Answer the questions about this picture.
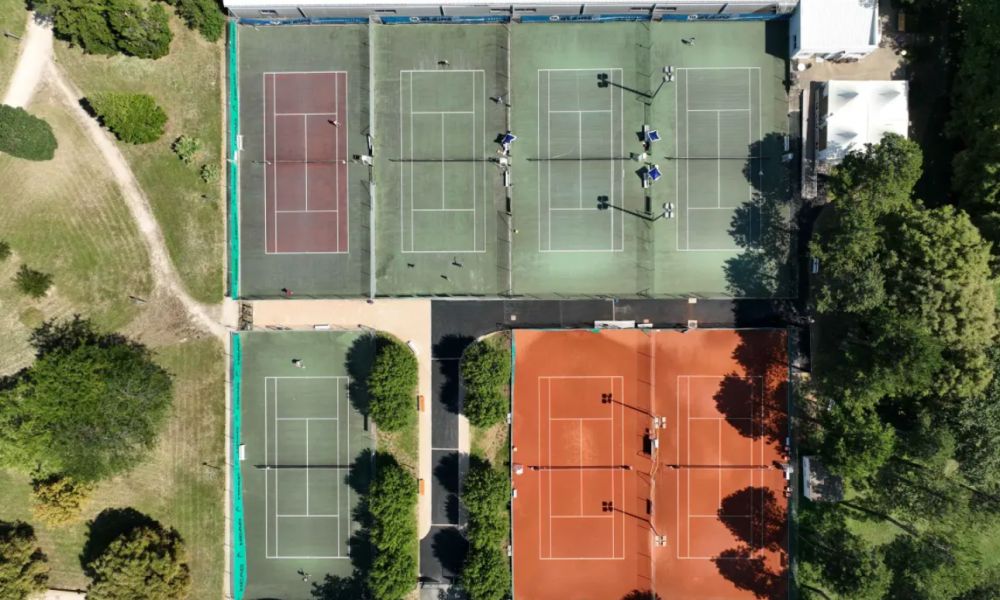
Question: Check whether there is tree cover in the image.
Yes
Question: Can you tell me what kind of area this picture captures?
sports ground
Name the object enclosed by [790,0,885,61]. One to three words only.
building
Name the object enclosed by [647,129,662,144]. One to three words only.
umbrella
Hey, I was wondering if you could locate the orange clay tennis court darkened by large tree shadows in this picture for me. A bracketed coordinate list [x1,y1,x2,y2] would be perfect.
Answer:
[652,330,789,600]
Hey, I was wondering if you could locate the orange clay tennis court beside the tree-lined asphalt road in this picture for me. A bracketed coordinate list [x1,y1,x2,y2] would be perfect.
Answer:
[514,330,653,600]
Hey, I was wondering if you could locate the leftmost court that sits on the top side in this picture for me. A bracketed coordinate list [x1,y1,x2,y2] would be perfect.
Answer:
[239,21,375,299]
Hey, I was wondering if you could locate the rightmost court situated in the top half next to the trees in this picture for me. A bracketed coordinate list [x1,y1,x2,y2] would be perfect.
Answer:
[651,21,790,299]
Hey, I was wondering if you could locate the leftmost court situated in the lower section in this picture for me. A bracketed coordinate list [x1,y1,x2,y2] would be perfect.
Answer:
[242,331,377,600]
